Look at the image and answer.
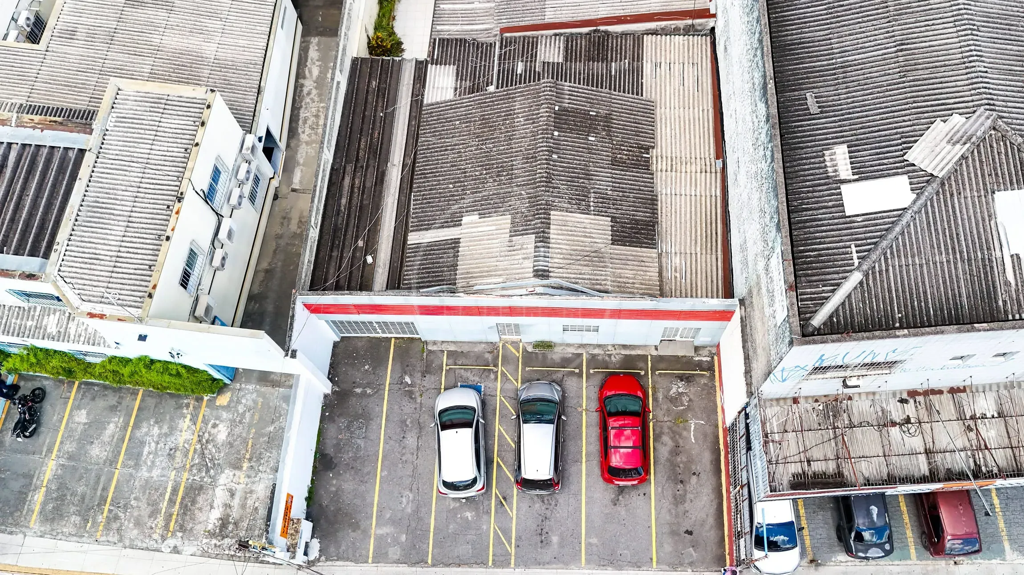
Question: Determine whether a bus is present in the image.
No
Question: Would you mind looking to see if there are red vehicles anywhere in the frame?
Yes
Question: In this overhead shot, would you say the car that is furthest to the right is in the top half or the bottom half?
bottom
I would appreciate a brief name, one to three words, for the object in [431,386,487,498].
car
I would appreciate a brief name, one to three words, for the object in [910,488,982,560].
car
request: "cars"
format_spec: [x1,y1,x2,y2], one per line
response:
[910,488,982,560]
[597,375,651,487]
[744,458,808,575]
[511,382,567,494]
[828,494,888,561]
[431,386,487,498]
